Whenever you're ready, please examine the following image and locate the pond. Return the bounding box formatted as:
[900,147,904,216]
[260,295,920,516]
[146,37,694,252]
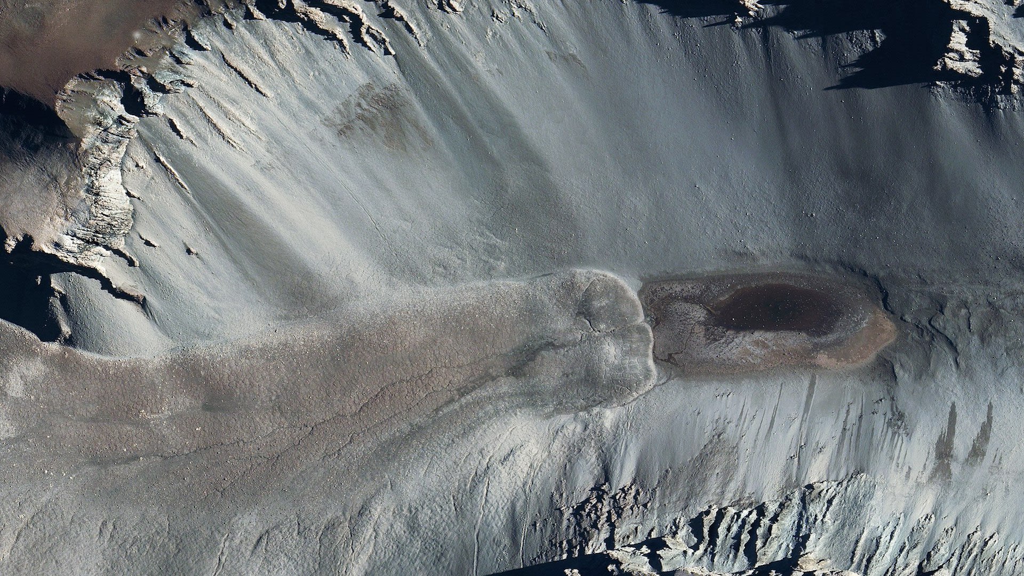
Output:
[705,282,856,339]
